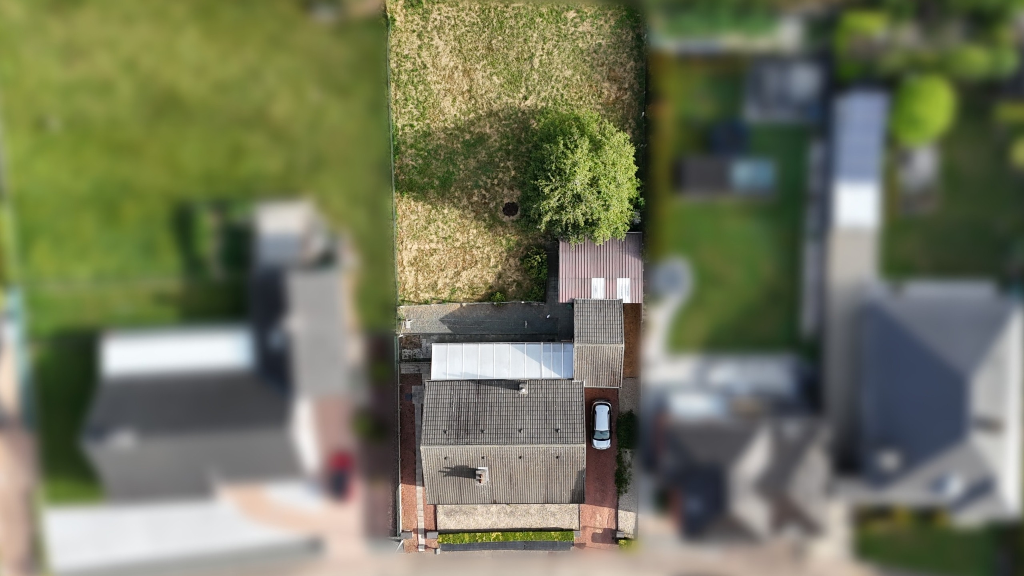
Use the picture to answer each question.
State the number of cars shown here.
2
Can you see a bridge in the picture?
No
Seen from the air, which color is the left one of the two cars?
red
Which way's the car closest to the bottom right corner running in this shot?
vertically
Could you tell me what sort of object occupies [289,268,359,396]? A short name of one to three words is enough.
building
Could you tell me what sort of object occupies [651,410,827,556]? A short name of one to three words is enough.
house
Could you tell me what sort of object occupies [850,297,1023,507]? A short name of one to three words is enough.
house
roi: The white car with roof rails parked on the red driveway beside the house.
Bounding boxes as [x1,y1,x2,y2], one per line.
[590,398,614,448]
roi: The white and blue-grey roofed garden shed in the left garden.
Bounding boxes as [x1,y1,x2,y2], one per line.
[255,203,322,266]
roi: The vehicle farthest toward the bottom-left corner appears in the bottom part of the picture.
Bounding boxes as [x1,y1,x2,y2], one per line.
[330,451,355,502]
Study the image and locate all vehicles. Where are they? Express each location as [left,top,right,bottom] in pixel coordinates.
[330,451,355,502]
[590,398,614,448]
